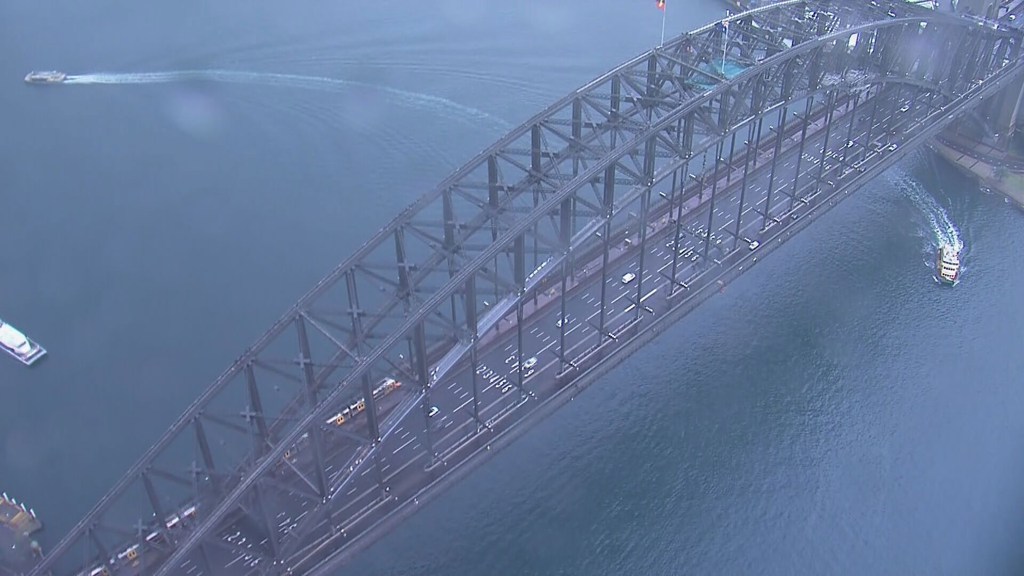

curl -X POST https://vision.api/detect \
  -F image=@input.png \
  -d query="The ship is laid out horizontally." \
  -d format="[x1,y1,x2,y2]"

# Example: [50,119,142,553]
[20,68,65,83]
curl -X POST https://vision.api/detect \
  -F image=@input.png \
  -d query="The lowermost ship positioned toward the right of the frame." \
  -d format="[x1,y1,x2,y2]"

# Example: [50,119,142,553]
[939,242,964,286]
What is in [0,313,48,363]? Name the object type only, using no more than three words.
boat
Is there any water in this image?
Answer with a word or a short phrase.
Yes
